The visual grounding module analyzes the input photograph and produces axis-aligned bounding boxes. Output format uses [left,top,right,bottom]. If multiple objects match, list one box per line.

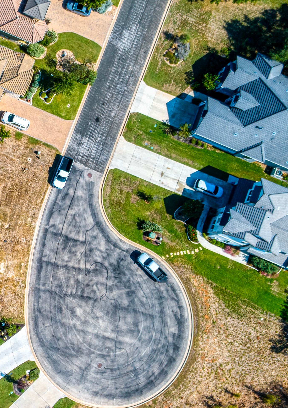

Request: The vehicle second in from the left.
[51,154,76,190]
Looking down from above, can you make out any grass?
Yes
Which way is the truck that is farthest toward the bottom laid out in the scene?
on a diagonal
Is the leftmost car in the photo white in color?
Yes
